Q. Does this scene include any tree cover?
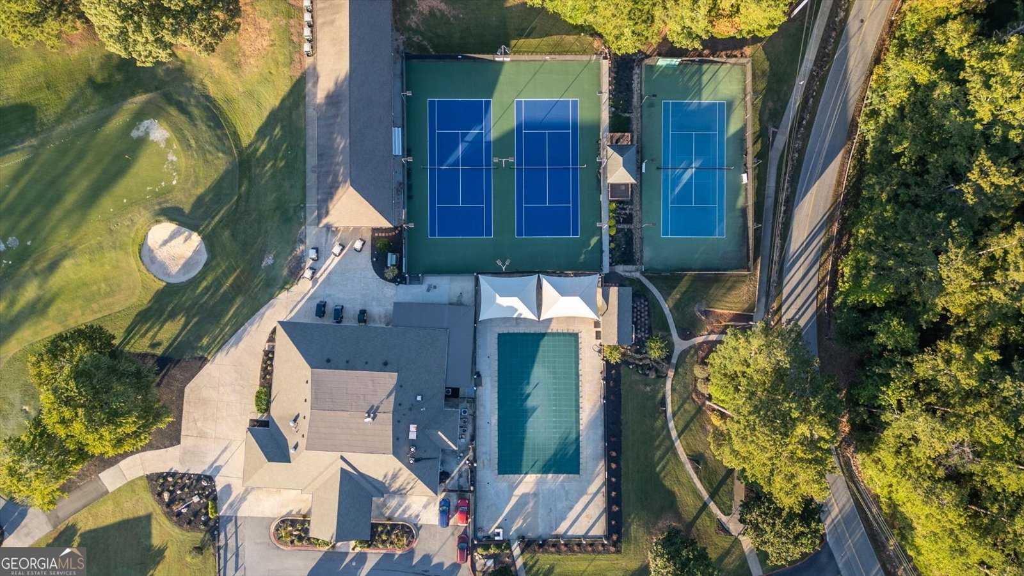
Yes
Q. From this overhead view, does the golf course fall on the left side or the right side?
left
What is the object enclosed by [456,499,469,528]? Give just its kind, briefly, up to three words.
vehicle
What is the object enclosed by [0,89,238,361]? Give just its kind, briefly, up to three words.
golf course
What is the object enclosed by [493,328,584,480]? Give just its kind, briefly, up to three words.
swimming pool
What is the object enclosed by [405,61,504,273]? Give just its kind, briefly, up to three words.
tennis court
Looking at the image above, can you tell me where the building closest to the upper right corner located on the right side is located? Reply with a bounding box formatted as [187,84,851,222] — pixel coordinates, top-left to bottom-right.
[606,144,636,183]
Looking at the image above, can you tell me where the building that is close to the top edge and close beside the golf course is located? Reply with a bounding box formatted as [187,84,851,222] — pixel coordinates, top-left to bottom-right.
[317,0,393,227]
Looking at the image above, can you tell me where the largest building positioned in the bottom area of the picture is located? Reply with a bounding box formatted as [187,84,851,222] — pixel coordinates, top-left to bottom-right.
[242,321,460,543]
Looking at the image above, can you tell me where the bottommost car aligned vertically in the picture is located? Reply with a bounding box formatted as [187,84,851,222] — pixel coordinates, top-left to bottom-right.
[455,536,468,566]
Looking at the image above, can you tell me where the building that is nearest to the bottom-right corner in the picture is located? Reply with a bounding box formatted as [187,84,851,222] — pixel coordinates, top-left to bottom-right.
[601,286,635,345]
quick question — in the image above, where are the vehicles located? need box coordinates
[302,39,312,56]
[455,536,468,566]
[357,310,366,325]
[437,499,450,530]
[331,240,344,255]
[332,306,342,322]
[301,0,312,10]
[456,499,469,528]
[301,266,315,281]
[314,303,325,318]
[307,245,317,261]
[301,23,312,40]
[353,236,365,252]
[302,9,312,25]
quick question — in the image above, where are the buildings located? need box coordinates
[242,321,460,543]
[317,0,393,227]
[606,144,636,183]
[601,286,635,345]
